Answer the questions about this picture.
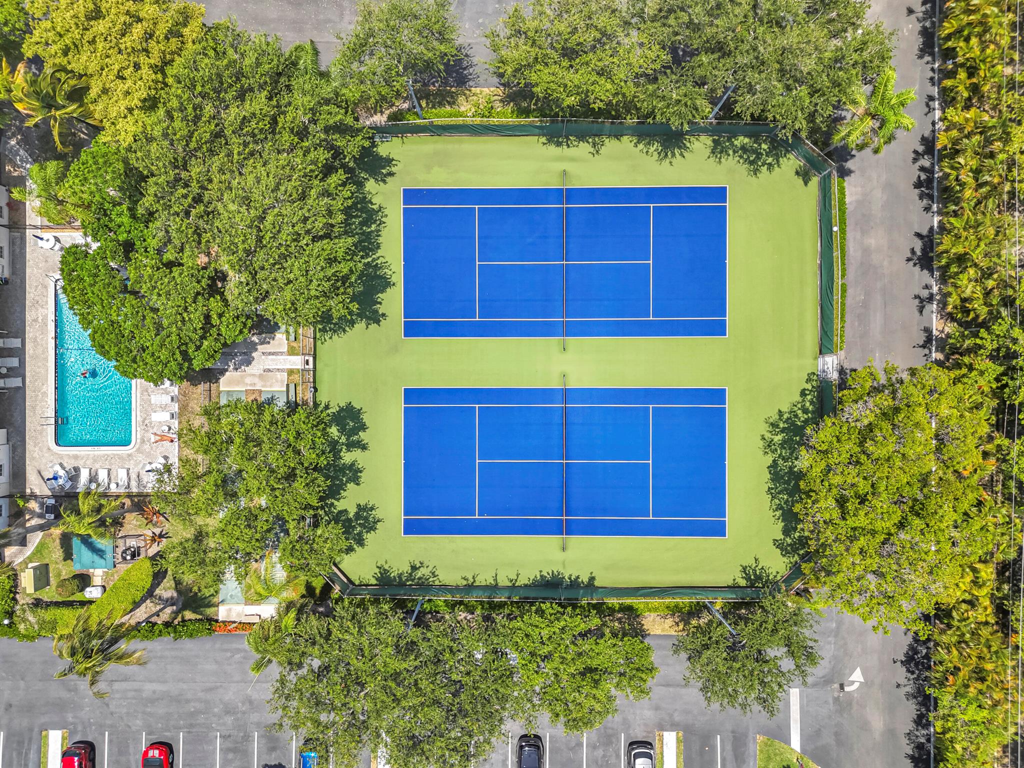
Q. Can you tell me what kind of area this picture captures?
sports ground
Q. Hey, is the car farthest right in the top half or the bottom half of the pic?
bottom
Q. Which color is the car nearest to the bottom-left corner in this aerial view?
red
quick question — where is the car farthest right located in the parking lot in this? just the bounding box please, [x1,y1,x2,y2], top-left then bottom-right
[627,744,653,768]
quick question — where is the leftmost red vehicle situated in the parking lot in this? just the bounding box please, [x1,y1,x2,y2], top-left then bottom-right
[59,745,95,768]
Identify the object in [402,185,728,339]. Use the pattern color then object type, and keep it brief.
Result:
blue tennis court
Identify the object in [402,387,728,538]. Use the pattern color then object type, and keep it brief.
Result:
blue tennis court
